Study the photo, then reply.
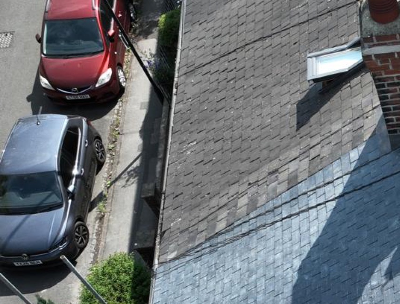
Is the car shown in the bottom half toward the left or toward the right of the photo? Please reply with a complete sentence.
The car shown in the bottom half sits on the left side.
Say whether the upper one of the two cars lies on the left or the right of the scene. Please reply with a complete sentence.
The upper one of the two cars is on the left side of the image.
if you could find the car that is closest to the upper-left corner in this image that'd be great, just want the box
[26,0,140,108]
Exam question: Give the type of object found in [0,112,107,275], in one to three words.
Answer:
car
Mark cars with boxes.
[0,112,107,275]
[26,0,140,108]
